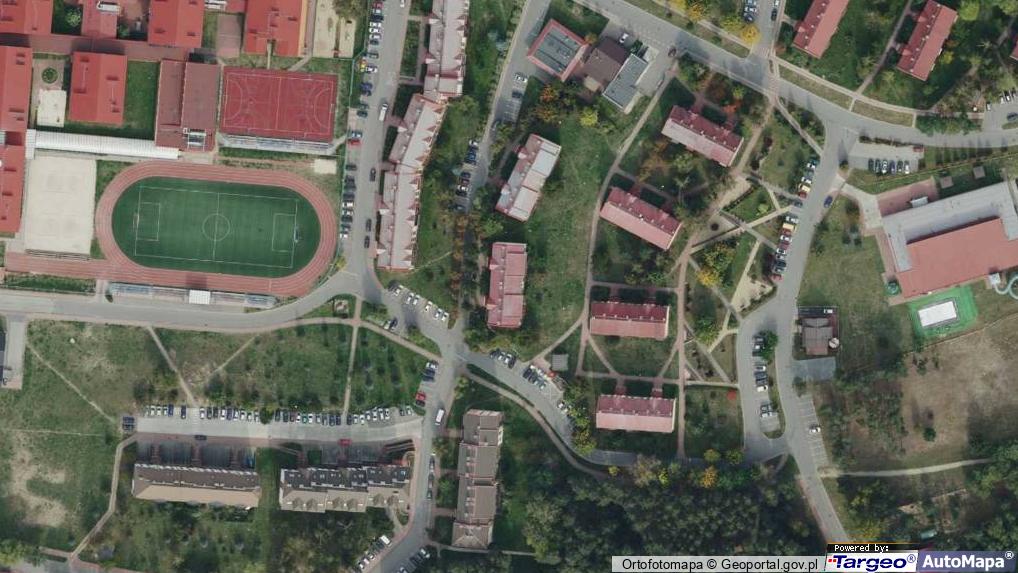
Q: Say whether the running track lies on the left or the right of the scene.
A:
left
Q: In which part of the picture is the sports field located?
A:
left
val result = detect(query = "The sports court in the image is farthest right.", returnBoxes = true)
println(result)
[908,285,978,338]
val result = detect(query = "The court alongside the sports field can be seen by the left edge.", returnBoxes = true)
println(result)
[25,154,96,255]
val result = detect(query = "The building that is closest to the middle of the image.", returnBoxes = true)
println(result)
[487,242,529,327]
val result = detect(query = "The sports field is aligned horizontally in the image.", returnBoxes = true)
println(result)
[112,176,321,278]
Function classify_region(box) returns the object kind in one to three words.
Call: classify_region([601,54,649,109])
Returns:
building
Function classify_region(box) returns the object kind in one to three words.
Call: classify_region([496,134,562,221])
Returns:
building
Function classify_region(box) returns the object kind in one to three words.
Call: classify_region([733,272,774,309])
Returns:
playground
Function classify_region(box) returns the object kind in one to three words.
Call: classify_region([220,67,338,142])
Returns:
sports court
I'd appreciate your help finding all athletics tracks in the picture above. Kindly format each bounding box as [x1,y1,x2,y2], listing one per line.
[5,160,336,295]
